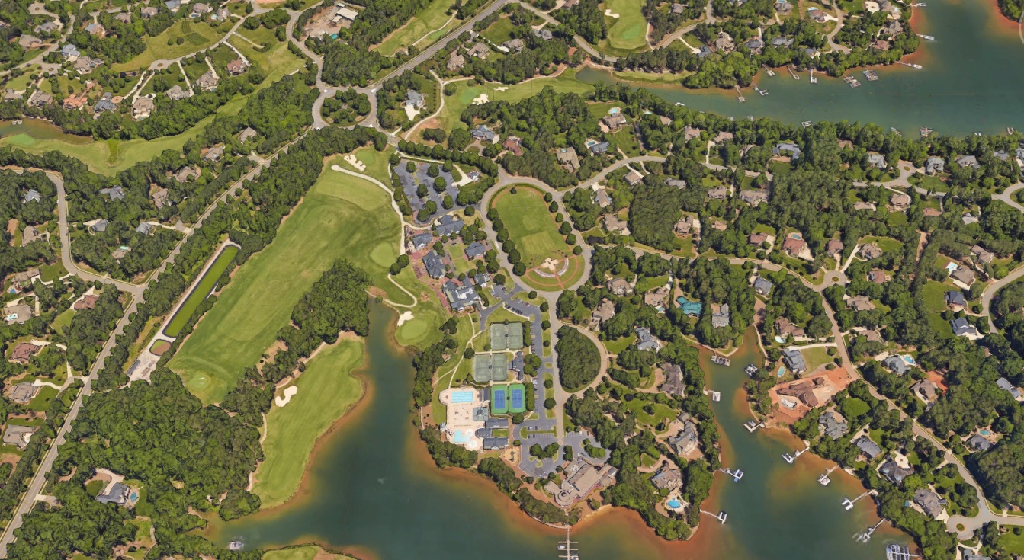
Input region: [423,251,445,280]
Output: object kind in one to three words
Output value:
building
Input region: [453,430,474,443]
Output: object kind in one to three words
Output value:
swimming pool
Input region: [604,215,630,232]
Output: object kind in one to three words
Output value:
house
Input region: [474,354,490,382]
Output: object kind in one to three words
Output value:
tennis court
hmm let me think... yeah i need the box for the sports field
[489,184,585,292]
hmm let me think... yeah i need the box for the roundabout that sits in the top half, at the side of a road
[314,88,377,131]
